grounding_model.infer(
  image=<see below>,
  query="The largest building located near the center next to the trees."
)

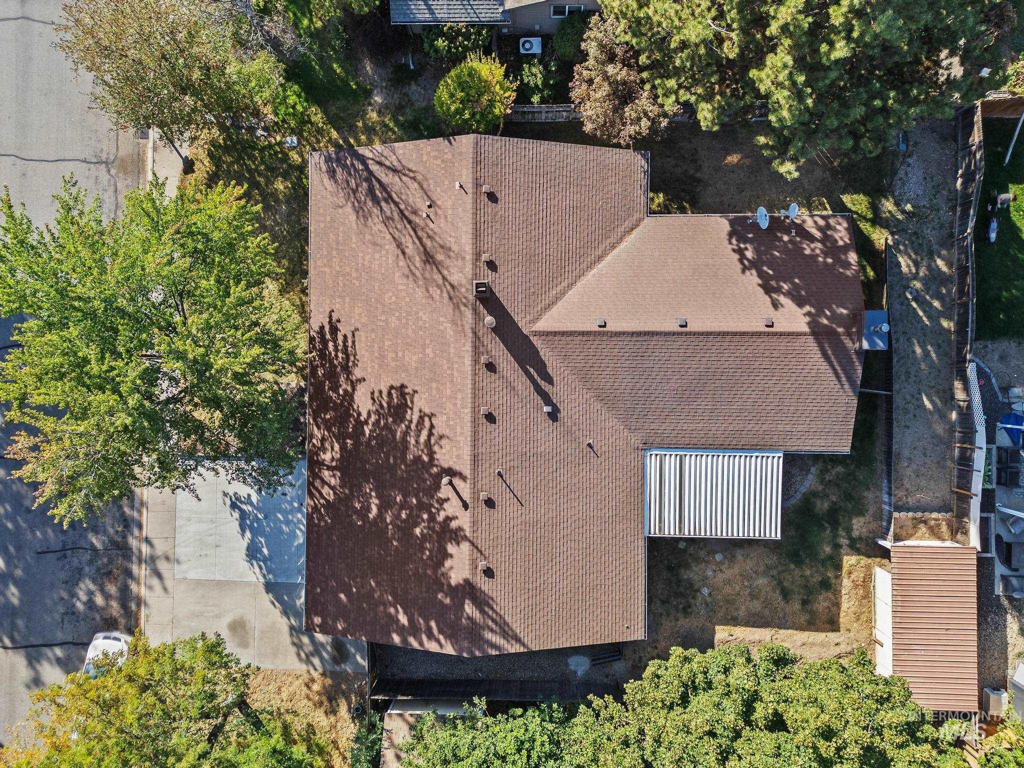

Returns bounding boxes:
[302,134,892,655]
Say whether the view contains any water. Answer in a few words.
No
